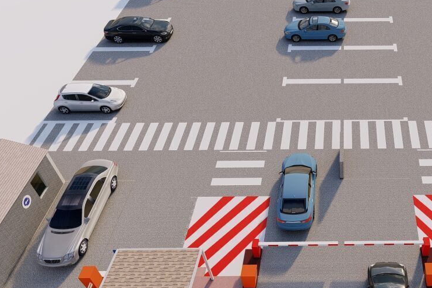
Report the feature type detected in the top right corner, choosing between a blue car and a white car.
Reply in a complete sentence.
There is a blue car in the top right corner.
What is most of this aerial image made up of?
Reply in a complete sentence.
The largest share of the image is taken up by paved ground.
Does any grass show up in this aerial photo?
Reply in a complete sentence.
No, there is no grass in the image.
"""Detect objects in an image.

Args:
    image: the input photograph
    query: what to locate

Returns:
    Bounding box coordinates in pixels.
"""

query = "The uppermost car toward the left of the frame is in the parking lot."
[104,18,174,44]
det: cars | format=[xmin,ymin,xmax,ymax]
[104,18,174,44]
[276,152,318,229]
[52,83,127,115]
[283,16,347,43]
[292,0,351,14]
[35,160,120,268]
[365,263,416,288]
